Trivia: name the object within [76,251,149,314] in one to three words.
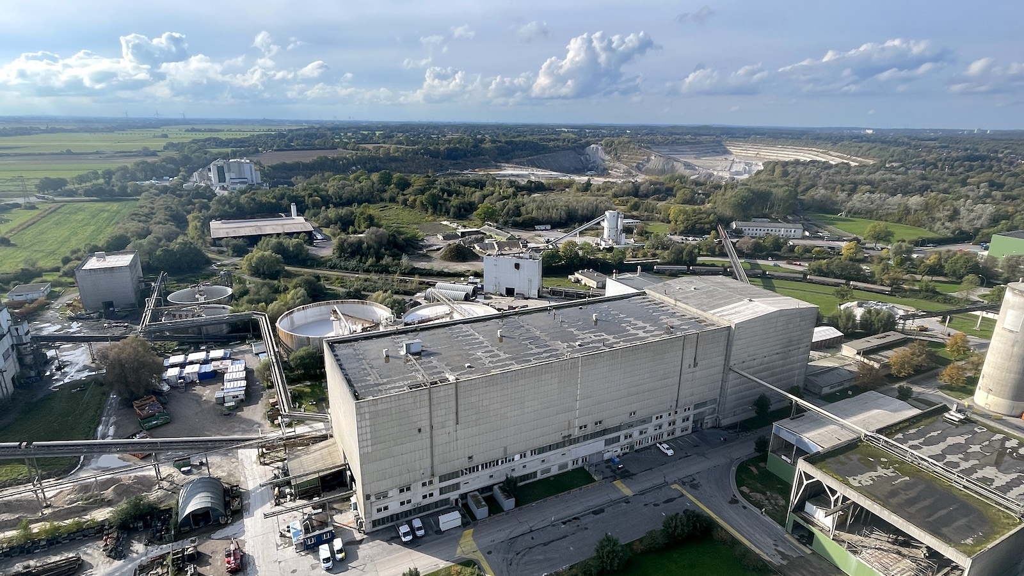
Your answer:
building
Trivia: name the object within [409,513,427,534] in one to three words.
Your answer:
car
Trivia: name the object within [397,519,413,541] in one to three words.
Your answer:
car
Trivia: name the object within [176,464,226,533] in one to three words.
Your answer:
shed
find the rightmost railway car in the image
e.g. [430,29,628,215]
[857,284,894,296]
